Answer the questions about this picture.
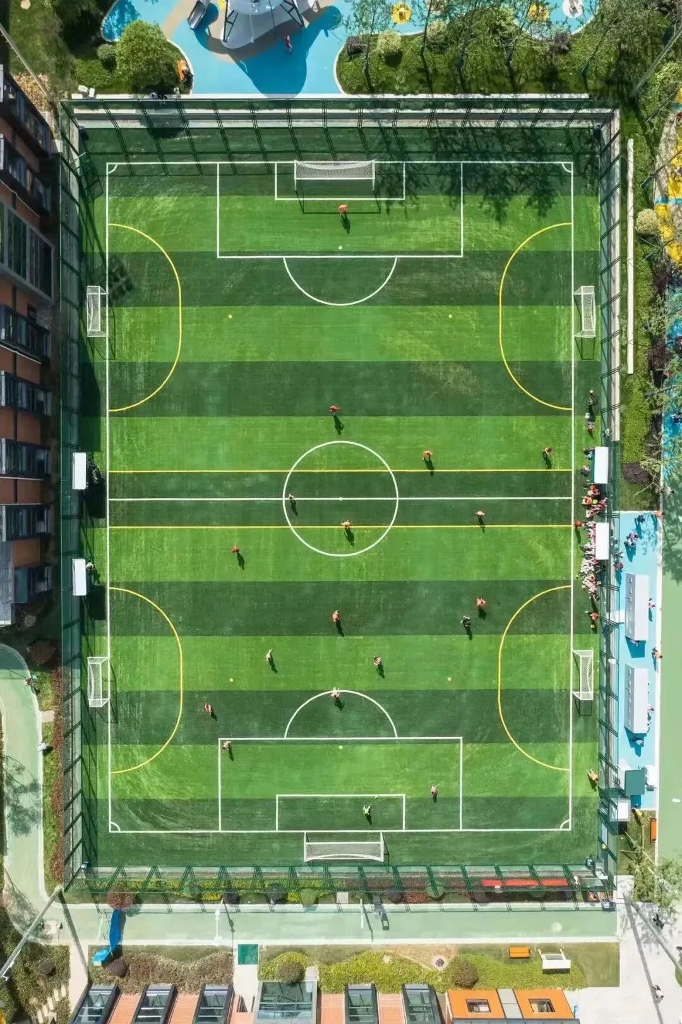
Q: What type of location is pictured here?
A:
sports ground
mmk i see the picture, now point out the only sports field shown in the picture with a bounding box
[82,129,600,867]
